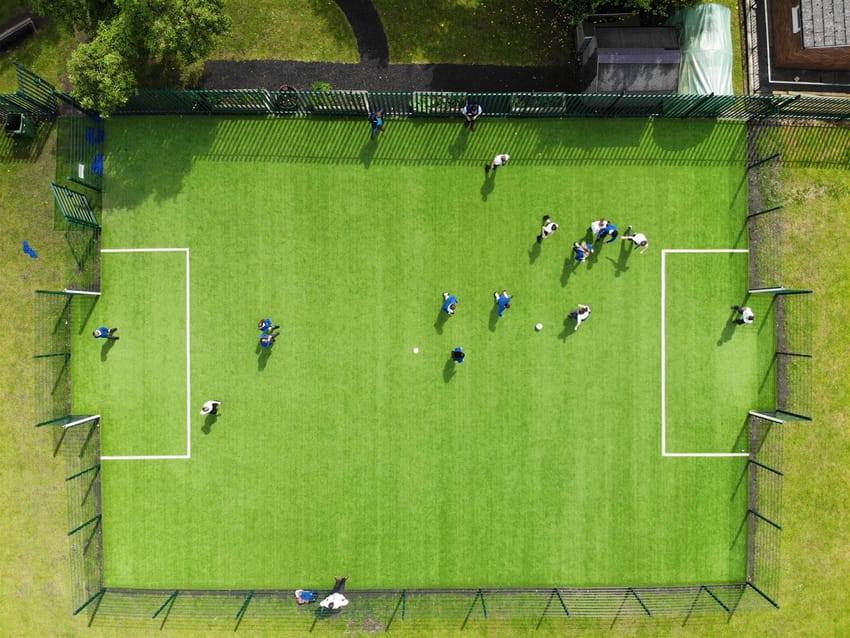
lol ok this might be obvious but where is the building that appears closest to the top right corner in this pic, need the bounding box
[753,0,850,97]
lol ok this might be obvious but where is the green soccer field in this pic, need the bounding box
[67,115,779,592]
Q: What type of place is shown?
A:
sports ground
